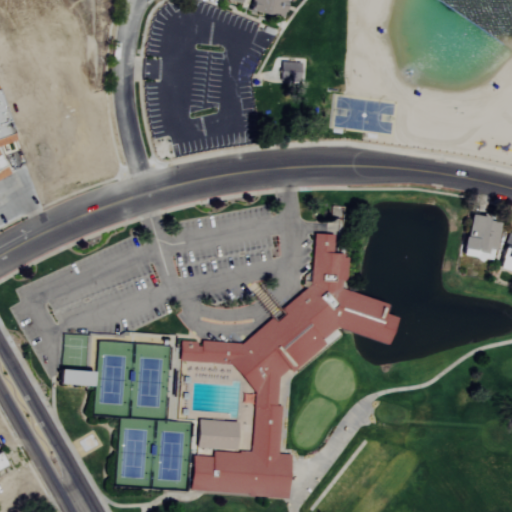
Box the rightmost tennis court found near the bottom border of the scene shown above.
[152,420,192,490]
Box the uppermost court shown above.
[330,93,398,136]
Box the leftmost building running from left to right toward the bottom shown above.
[63,370,98,386]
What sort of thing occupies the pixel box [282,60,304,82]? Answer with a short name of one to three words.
shed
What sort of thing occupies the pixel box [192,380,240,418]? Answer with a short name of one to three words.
swimming pool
